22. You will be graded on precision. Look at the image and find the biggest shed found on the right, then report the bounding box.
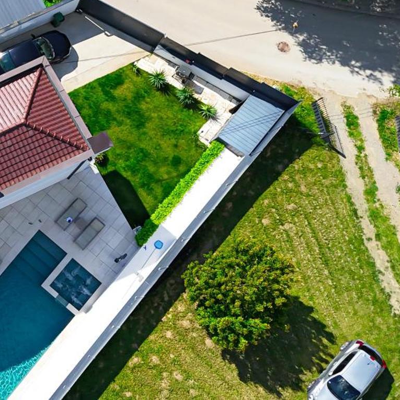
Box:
[207,96,285,160]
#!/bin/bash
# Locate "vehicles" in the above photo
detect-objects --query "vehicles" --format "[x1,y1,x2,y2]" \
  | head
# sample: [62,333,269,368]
[0,33,73,77]
[308,343,390,400]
